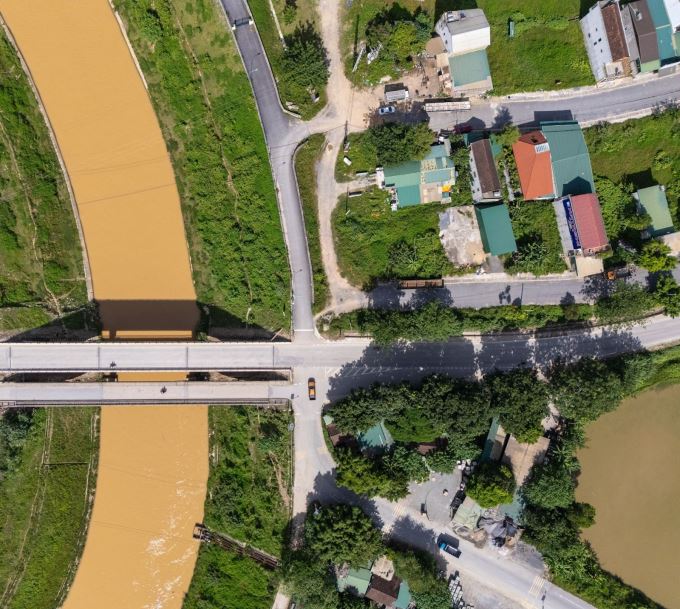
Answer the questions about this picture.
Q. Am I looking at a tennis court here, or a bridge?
bridge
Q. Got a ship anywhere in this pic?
No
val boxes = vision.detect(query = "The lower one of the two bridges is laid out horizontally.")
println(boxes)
[0,379,292,406]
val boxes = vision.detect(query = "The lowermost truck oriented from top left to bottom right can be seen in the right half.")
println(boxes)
[438,540,464,562]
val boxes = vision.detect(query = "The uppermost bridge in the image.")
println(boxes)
[0,342,294,374]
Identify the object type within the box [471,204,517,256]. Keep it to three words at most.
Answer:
house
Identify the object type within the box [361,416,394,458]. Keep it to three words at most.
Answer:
shed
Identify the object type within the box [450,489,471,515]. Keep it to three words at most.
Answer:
truck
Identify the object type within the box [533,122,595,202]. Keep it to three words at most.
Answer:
barn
